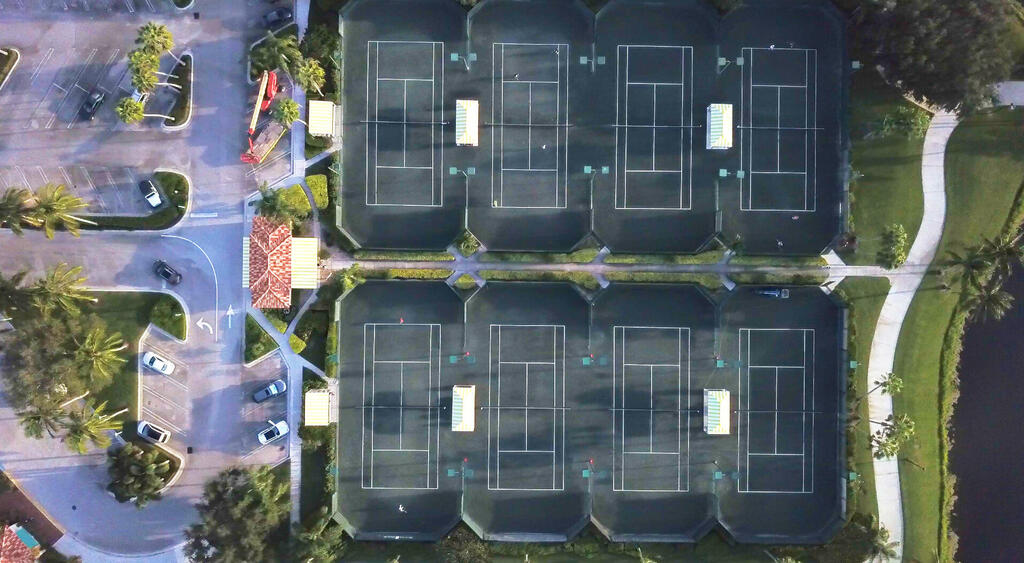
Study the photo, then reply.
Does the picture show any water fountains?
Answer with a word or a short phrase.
No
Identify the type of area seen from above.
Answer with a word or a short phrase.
sports ground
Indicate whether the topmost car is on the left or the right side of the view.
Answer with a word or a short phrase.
left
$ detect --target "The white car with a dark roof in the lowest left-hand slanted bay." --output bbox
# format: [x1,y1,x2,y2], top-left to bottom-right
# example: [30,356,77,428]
[138,421,172,445]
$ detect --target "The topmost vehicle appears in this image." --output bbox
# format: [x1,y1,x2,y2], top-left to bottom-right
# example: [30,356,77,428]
[260,7,294,28]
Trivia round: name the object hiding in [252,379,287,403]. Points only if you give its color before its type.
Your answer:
blue car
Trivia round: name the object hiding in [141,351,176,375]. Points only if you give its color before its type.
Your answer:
white car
